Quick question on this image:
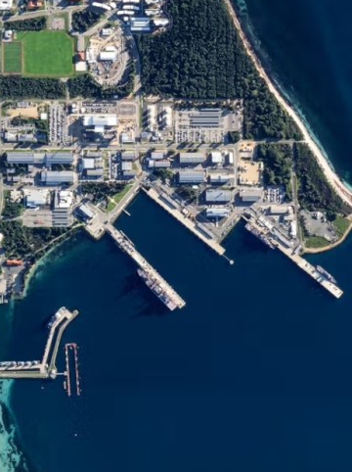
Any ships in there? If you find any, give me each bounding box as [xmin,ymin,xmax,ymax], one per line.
[245,224,276,249]
[48,315,58,327]
[316,265,337,284]
[140,269,179,312]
